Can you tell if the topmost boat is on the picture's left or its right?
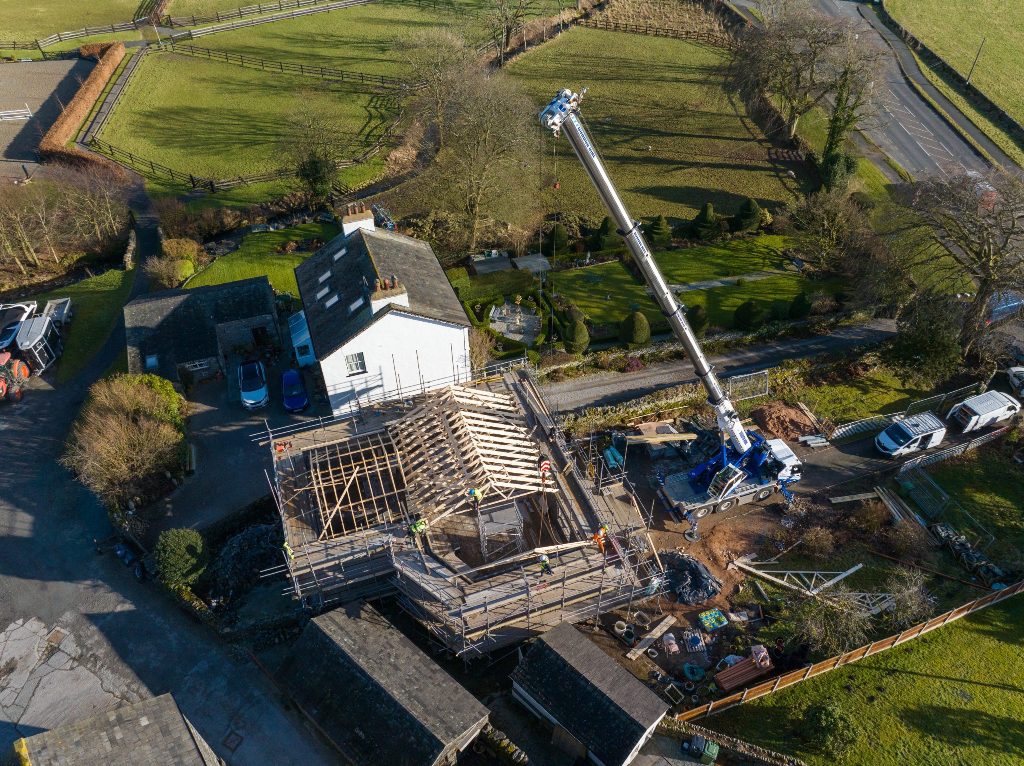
left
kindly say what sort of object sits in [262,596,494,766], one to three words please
barn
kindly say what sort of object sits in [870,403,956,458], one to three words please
van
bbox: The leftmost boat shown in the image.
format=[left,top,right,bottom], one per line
[0,295,30,350]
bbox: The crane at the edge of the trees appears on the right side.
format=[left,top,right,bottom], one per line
[535,73,812,542]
